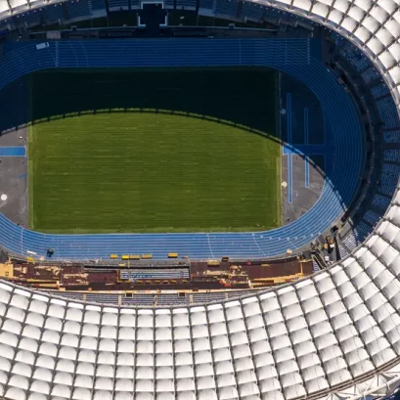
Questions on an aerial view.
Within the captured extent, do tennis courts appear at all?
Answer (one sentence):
No, no tennis court is visible in the scene.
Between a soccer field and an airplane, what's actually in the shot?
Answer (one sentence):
Visible in the photo is a soccer field.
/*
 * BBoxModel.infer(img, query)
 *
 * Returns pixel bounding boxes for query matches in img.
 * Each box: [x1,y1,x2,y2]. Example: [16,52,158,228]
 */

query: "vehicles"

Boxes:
[35,42,50,49]
[47,245,54,255]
